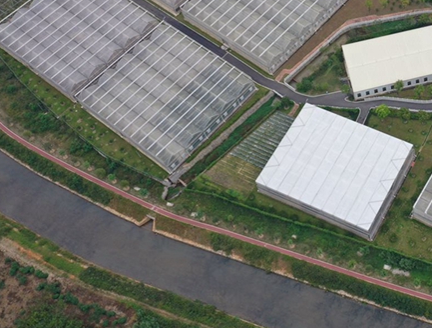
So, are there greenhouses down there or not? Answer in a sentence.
Yes, a greenhouse appears in the view.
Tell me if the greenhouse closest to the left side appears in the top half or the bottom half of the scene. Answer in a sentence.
The top half of the photo is where the greenhouse closest to the left side is.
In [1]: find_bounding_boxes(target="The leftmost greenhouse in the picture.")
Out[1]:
[0,0,155,101]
